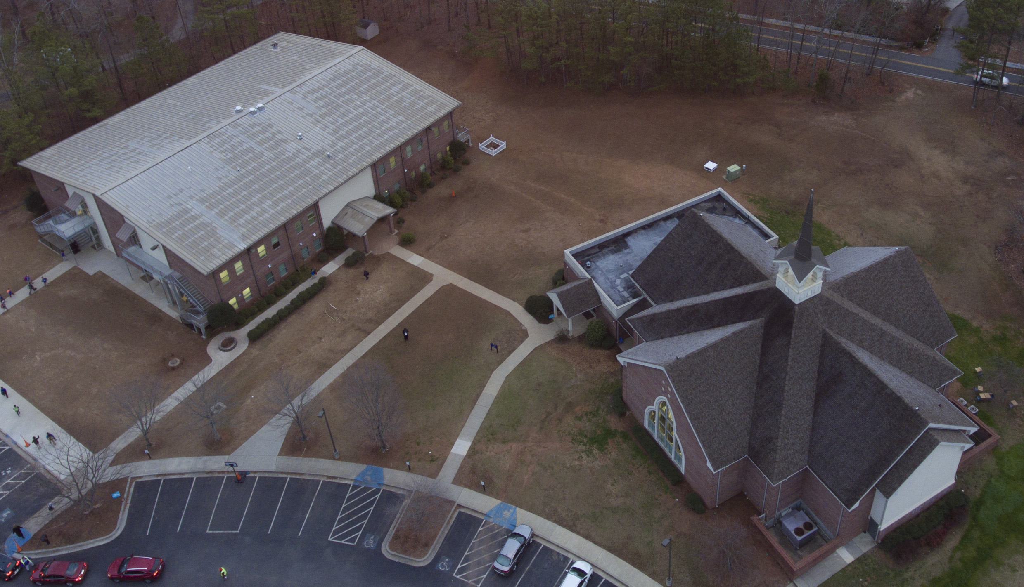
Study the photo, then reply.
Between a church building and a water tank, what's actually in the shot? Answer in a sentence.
This aerial view contains a church building.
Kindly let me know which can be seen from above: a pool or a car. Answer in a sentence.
This aerial view contains a car.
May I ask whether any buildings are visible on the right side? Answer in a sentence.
Yes, a building is visible on the right side.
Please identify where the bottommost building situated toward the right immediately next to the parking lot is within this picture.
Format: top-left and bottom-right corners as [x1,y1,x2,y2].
[564,189,980,559]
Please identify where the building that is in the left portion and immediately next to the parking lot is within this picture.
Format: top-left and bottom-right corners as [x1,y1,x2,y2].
[18,31,461,311]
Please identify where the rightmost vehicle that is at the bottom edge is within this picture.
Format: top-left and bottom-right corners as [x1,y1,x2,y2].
[557,559,593,587]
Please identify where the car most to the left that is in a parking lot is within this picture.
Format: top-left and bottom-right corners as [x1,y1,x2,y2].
[0,552,20,582]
